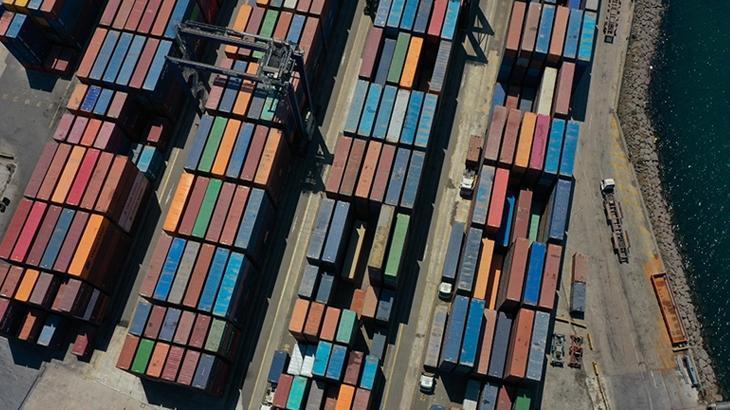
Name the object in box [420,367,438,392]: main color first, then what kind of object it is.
white vehicle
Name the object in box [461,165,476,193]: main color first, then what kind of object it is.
white vehicle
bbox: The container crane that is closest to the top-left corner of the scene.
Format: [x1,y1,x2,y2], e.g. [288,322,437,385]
[165,21,322,130]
